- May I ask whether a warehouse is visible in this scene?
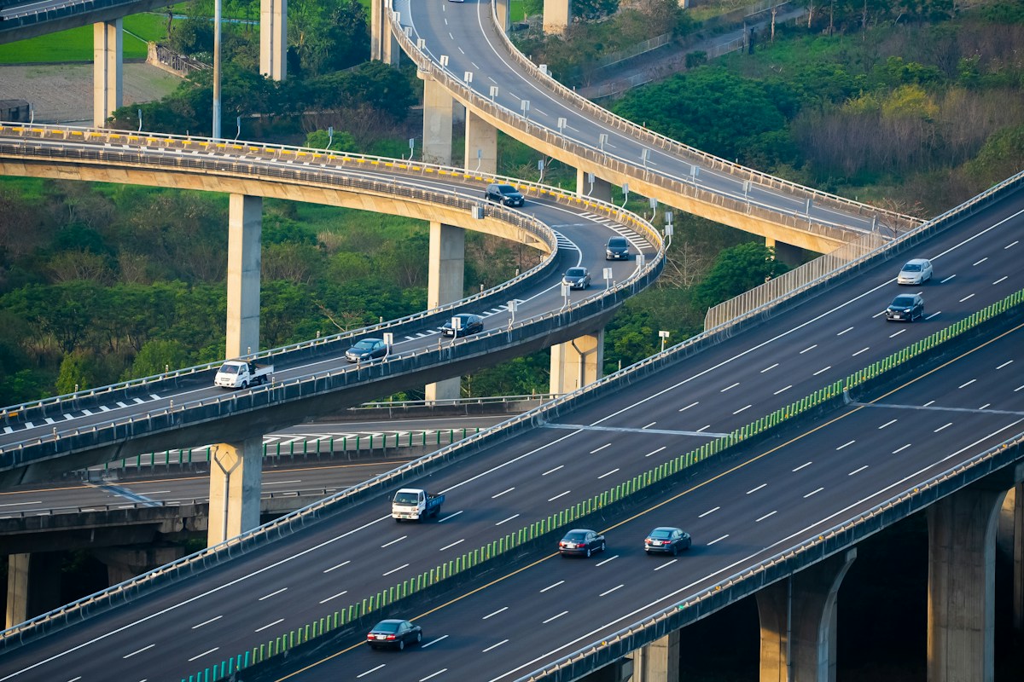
No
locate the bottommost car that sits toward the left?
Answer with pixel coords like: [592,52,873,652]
[370,615,425,647]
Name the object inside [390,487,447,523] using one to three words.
truck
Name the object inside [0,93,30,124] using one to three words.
shed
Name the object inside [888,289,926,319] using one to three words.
car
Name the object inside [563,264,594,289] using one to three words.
car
